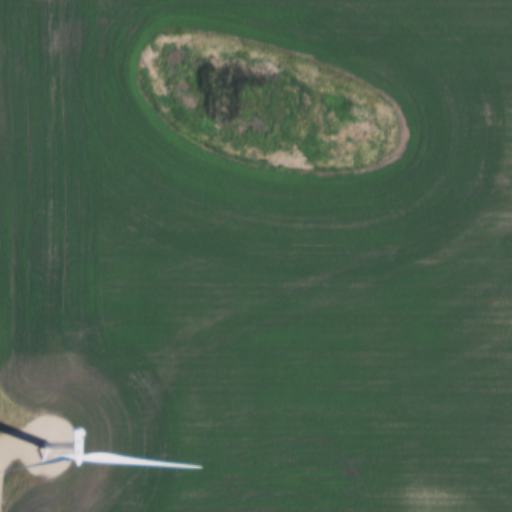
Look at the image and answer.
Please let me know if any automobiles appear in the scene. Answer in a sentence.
No, no automobile is visible in the view.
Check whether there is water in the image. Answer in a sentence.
No, no water is visible.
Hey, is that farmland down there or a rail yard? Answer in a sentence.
The area seen from above is farmland.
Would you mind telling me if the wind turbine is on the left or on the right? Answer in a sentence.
It is on the left.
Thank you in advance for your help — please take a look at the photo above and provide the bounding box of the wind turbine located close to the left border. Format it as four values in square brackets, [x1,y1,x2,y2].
[0,427,202,474]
